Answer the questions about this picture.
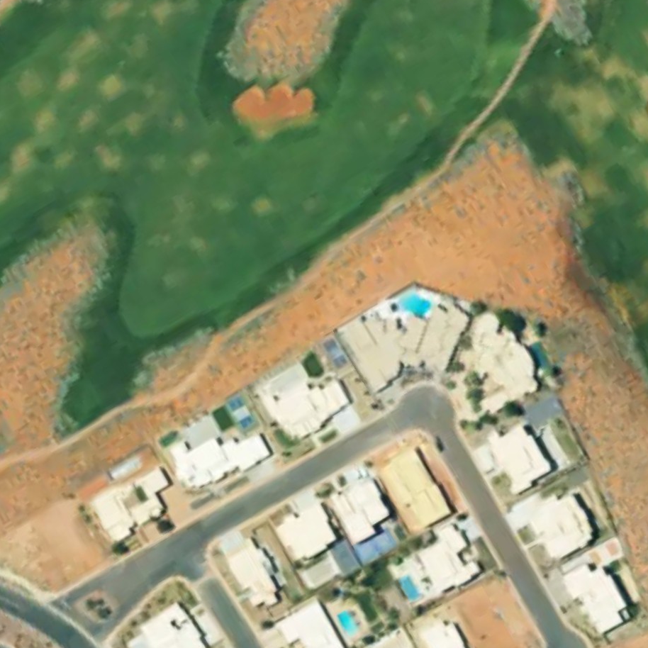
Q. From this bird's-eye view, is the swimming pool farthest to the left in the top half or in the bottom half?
bottom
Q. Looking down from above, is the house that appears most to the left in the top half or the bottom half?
bottom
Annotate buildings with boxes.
[276,505,338,562]
[484,425,546,494]
[420,621,467,648]
[328,475,391,545]
[416,527,481,594]
[93,469,171,537]
[528,487,595,562]
[167,426,271,490]
[146,606,199,648]
[562,565,626,632]
[370,632,410,648]
[263,373,352,442]
[227,548,281,613]
[337,301,467,393]
[472,313,537,412]
[388,450,450,528]
[278,603,341,648]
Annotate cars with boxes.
[434,436,443,451]
[360,465,368,476]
